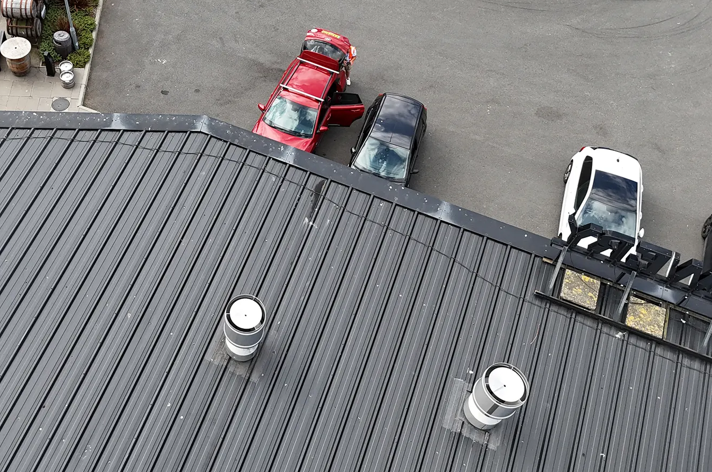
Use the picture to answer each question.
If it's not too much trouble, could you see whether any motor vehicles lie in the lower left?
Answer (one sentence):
No, no motor vehicle is visible in the lower left.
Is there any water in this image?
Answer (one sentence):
No, the scene doesn't show any water.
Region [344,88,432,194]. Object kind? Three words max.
car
